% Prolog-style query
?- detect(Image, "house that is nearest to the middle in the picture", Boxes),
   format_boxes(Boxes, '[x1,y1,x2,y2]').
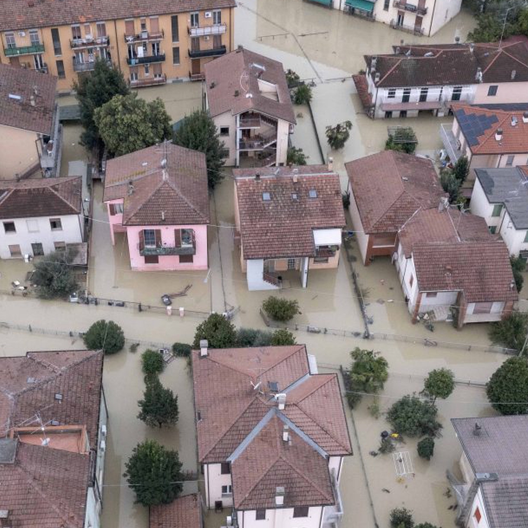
[232,153,347,292]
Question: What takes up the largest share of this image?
buildings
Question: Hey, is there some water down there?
Yes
